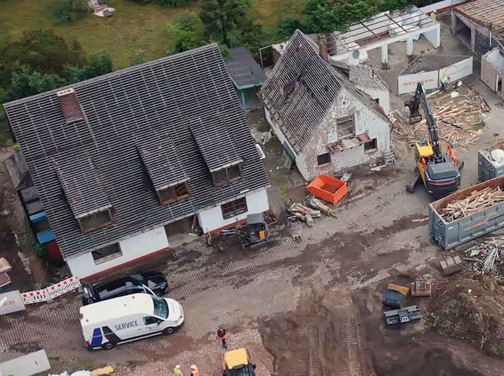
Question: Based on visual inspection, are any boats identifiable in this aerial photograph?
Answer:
No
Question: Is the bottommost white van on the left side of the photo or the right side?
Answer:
left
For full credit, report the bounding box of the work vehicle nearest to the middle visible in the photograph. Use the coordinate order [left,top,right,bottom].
[213,211,272,253]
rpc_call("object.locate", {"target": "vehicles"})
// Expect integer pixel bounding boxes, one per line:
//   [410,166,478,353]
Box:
[210,348,255,376]
[88,268,165,308]
[410,81,466,203]
[86,294,187,350]
[213,211,272,253]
